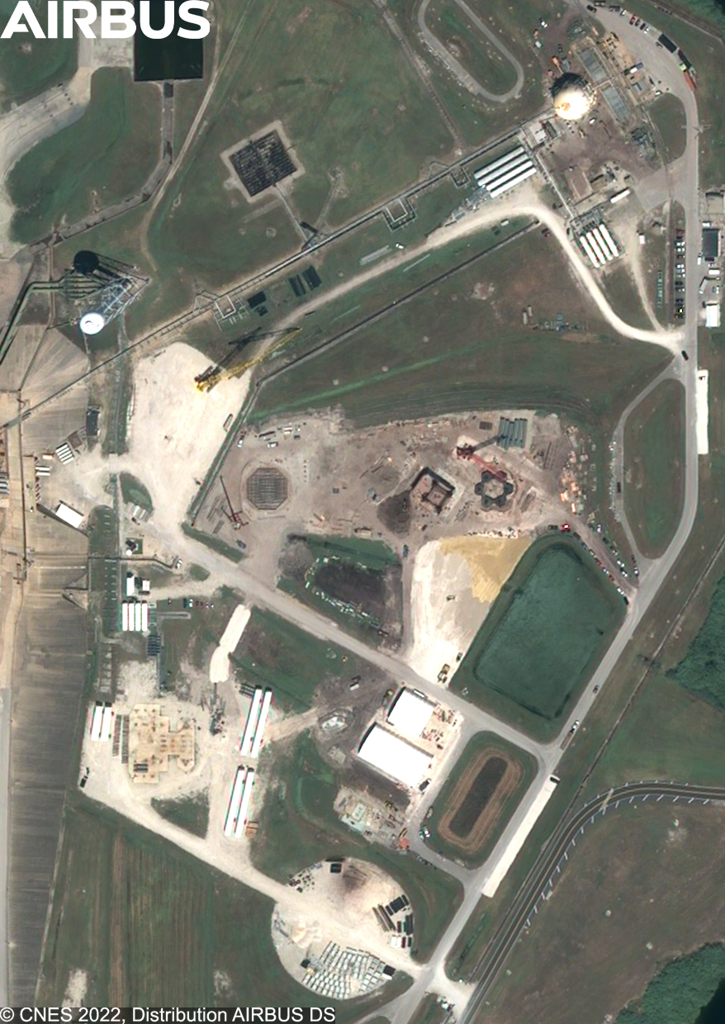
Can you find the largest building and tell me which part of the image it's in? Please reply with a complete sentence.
Look in the bottom portion of the view to spot the largest building.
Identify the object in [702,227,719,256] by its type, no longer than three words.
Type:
building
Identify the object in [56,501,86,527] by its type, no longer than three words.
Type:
building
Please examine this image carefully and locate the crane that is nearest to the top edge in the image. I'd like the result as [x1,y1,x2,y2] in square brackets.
[189,327,302,398]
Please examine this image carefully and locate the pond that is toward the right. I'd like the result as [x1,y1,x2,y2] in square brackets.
[476,542,610,718]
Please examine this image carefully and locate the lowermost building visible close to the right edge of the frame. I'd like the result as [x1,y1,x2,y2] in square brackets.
[706,303,722,327]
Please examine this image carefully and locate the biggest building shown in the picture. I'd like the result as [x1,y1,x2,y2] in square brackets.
[359,721,433,787]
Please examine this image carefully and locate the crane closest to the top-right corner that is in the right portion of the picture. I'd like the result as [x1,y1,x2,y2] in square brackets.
[447,444,506,482]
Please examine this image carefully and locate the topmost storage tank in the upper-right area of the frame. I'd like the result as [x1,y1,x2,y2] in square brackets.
[554,78,598,122]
